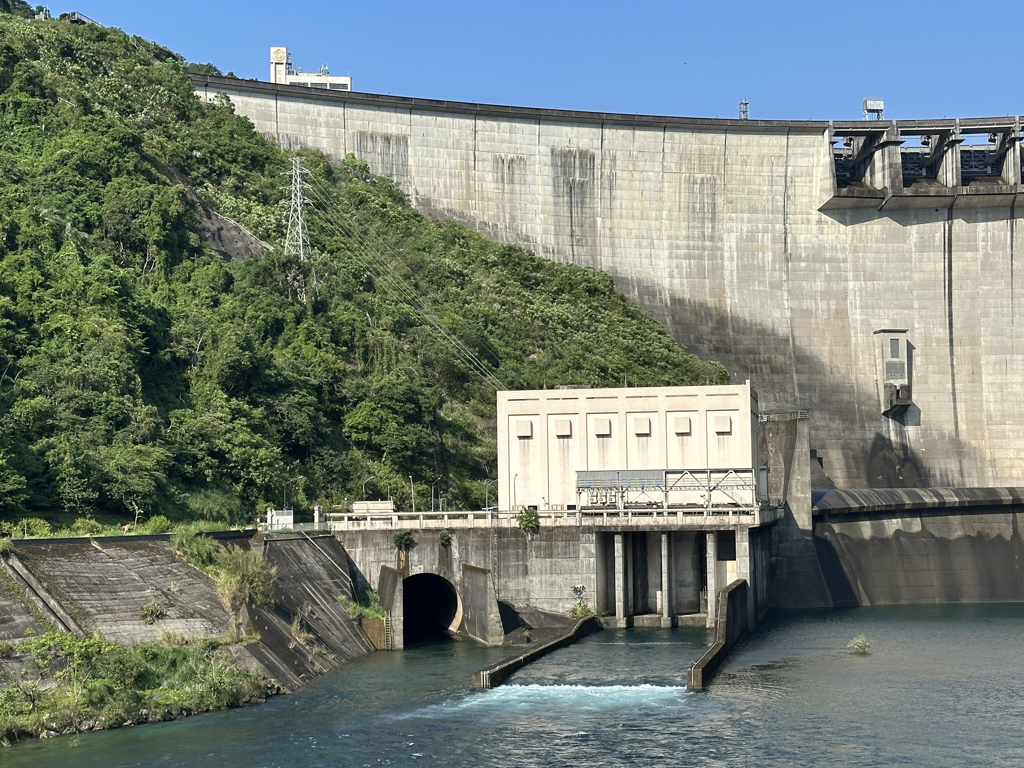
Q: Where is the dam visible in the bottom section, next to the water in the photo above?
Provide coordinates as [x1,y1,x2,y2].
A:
[811,486,1024,608]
